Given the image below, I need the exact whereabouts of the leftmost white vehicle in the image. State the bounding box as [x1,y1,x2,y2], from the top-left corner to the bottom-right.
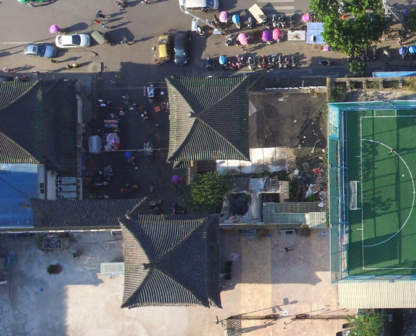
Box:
[55,32,93,49]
